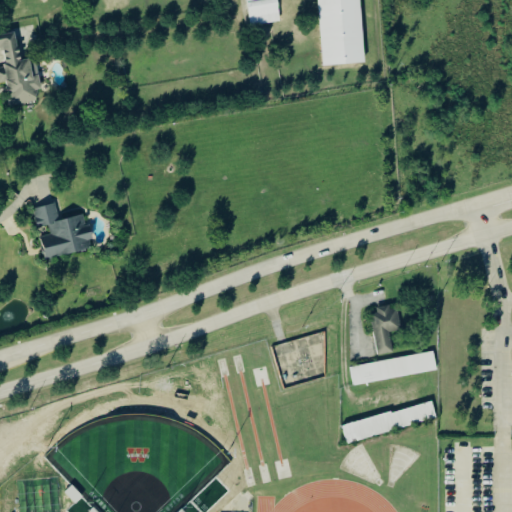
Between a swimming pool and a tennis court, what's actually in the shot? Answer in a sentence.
This aerial view contains a swimming pool.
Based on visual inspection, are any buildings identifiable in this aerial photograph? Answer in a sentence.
Yes, I can see a building in this picture.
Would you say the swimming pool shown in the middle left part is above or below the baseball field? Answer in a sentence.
Looking at the photo, you'll find the swimming pool shown in the middle left part above the baseball field.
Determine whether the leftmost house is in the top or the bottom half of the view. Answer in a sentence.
You can find the leftmost house in the top half.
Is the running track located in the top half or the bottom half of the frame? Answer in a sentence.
The running track is in the bottom half of the image.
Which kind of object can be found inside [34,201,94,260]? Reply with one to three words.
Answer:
house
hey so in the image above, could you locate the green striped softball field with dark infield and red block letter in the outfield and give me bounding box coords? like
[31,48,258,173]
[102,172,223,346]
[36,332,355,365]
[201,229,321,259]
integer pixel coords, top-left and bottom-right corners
[46,414,230,512]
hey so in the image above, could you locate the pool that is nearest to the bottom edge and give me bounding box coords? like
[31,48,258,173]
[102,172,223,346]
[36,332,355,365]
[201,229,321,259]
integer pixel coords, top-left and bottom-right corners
[88,211,110,246]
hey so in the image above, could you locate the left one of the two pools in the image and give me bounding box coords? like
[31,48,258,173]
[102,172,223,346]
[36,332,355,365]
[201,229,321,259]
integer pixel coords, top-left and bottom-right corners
[41,60,66,91]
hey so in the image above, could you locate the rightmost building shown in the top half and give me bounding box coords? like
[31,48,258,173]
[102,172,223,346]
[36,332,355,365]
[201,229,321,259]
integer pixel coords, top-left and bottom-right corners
[316,0,365,64]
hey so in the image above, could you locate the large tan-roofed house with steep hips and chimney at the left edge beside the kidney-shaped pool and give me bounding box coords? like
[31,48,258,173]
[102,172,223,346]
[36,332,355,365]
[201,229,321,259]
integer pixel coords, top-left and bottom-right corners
[0,29,42,106]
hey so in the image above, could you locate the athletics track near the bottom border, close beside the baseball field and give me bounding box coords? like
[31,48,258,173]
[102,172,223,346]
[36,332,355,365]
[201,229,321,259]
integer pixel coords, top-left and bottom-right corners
[258,478,400,512]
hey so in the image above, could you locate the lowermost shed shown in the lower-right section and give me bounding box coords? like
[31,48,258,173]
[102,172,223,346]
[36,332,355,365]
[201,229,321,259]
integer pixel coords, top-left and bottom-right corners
[342,402,436,443]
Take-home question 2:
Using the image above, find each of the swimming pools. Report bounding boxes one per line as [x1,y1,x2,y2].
[41,60,66,91]
[88,211,110,246]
